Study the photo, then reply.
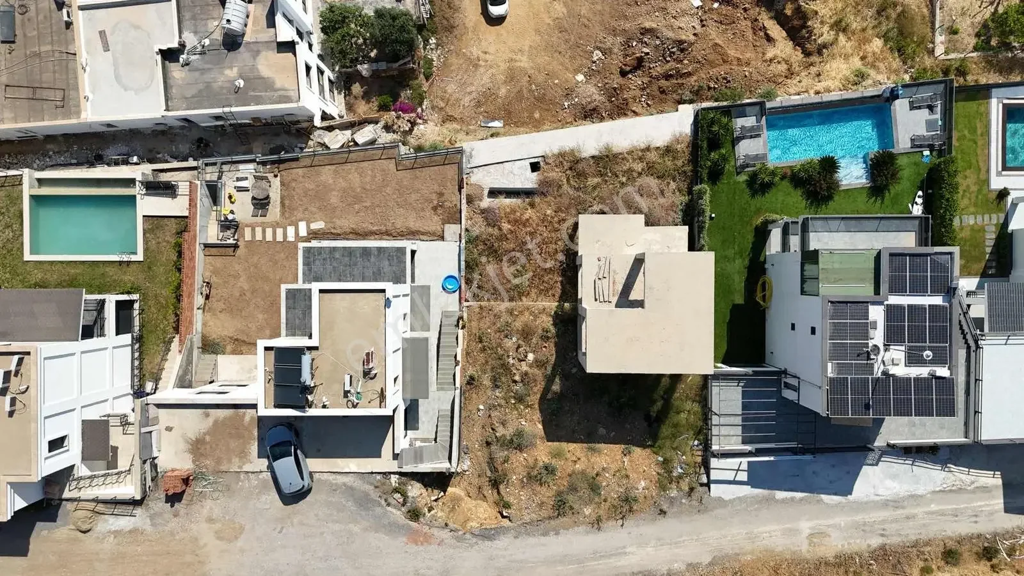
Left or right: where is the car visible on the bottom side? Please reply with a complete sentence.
It is on the left.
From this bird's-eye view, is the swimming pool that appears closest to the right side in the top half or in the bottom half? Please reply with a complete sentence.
Seen from above, the swimming pool that appears closest to the right side lies in the top half of the view.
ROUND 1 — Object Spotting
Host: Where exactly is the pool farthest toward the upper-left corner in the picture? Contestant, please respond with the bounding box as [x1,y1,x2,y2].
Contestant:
[24,169,192,261]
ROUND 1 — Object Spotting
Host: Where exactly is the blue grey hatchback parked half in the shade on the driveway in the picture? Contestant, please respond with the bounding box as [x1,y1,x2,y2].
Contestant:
[266,419,316,500]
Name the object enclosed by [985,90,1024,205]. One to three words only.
swimming pool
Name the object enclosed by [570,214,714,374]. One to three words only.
house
